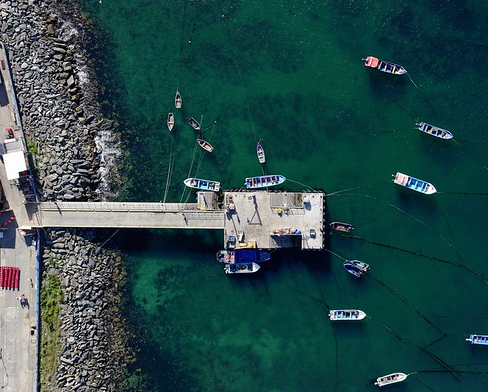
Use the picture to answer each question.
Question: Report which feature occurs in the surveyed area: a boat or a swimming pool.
boat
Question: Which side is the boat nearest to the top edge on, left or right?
right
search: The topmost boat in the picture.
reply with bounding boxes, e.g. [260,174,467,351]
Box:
[359,54,408,73]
